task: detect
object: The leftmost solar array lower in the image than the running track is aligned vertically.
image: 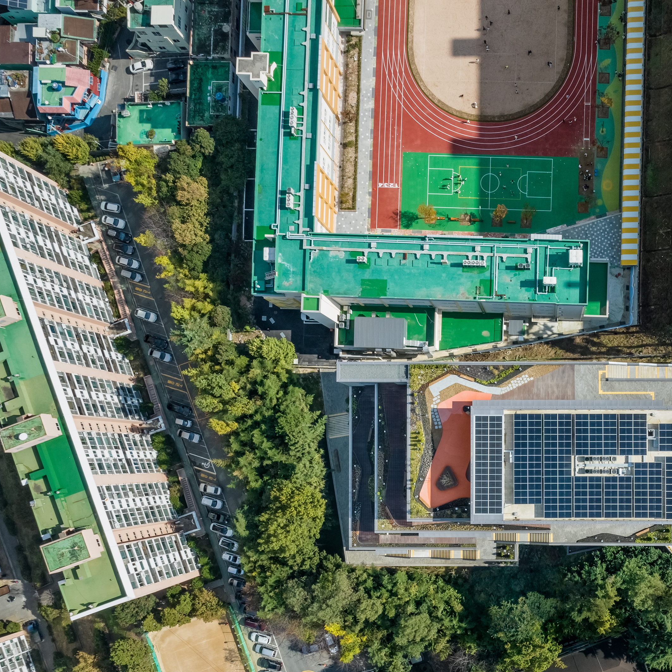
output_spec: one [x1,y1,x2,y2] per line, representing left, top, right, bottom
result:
[476,416,503,513]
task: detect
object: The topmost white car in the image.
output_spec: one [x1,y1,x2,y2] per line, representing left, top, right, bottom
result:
[128,58,155,75]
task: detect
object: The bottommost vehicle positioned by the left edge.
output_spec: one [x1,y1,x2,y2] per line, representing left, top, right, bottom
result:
[26,619,41,644]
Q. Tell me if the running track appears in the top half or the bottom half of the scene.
top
